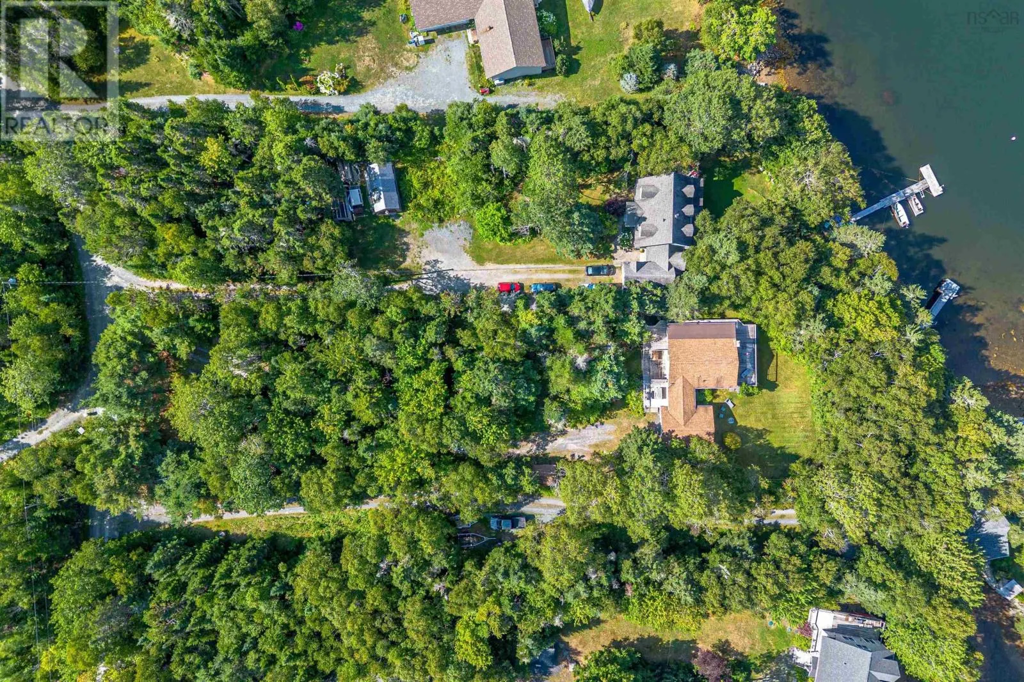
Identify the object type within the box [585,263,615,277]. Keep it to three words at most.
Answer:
car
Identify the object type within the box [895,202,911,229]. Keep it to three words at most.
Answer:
boat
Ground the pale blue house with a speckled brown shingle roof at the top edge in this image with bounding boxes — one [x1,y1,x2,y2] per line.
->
[410,0,558,80]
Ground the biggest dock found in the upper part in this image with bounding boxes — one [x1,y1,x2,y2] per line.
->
[849,163,945,219]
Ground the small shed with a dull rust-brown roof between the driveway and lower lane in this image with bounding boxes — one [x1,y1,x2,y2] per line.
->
[532,463,555,485]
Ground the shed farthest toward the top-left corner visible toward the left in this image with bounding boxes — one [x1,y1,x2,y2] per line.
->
[366,161,400,216]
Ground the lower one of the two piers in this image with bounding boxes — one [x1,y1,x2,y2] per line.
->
[928,278,959,321]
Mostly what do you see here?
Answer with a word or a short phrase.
trees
